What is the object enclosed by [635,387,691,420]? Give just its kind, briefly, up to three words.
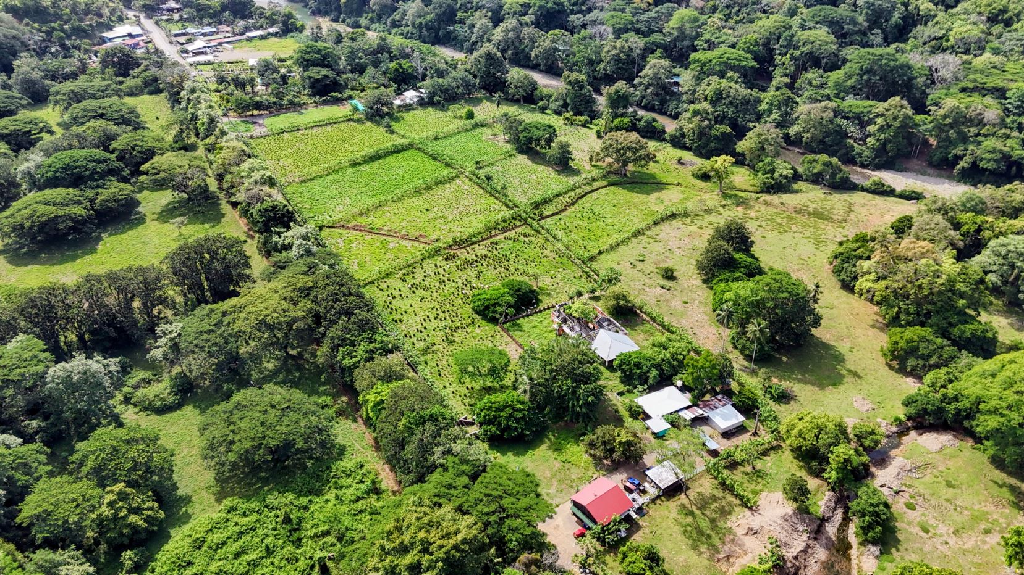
house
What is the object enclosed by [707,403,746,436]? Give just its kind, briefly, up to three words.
house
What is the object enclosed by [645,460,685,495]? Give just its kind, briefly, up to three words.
shed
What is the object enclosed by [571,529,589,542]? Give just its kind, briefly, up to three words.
vehicle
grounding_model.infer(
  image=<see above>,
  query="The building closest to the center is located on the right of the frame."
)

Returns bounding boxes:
[592,333,641,368]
